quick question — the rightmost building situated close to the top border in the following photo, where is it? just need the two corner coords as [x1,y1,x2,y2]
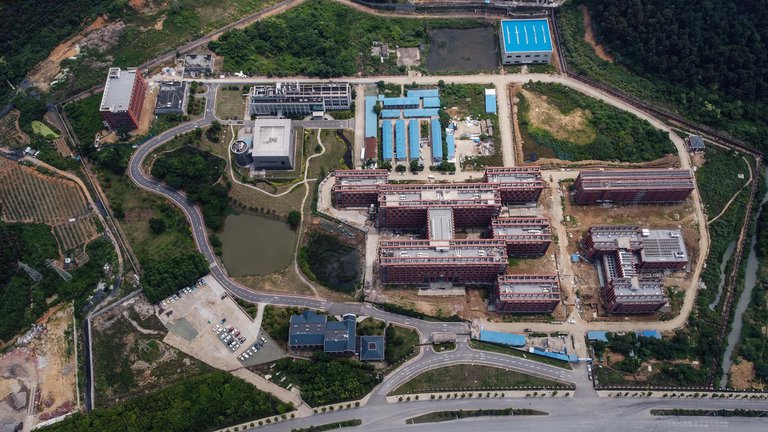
[499,18,554,64]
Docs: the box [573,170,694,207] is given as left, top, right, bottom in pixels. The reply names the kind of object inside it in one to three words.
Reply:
building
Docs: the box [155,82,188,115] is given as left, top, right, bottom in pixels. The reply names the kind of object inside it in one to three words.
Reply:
building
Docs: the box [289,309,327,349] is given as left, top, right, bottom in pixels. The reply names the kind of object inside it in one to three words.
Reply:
house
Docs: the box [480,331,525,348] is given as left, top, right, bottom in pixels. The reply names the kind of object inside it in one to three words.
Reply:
shed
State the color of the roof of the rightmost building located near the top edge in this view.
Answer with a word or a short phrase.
blue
